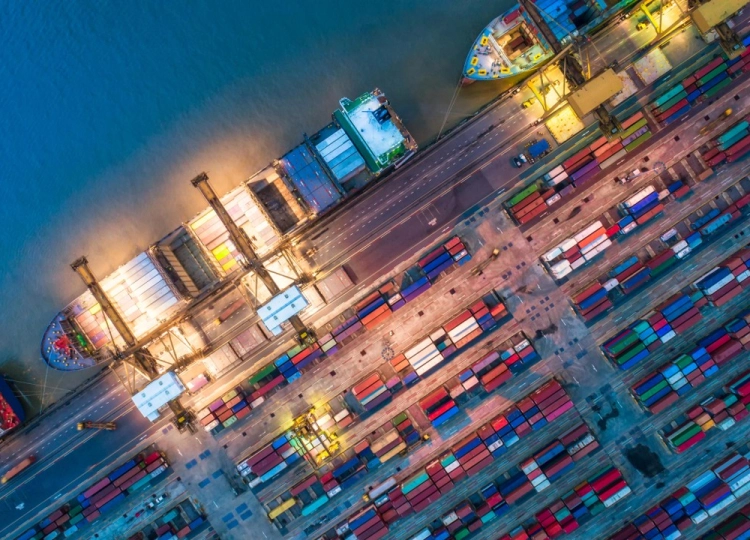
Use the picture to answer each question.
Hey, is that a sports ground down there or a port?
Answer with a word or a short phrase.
port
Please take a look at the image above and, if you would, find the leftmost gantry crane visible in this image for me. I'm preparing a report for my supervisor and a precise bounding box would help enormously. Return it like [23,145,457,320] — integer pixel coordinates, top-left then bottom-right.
[69,259,210,427]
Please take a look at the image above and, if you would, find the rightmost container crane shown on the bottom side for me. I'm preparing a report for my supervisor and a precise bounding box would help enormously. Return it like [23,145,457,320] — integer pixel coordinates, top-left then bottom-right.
[283,403,336,473]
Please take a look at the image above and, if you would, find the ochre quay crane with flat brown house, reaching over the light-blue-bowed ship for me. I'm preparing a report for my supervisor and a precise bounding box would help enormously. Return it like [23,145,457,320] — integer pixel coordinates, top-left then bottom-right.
[508,0,625,133]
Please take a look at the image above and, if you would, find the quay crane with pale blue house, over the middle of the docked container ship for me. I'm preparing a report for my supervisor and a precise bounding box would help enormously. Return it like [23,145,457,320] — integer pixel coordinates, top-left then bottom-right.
[192,175,317,342]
